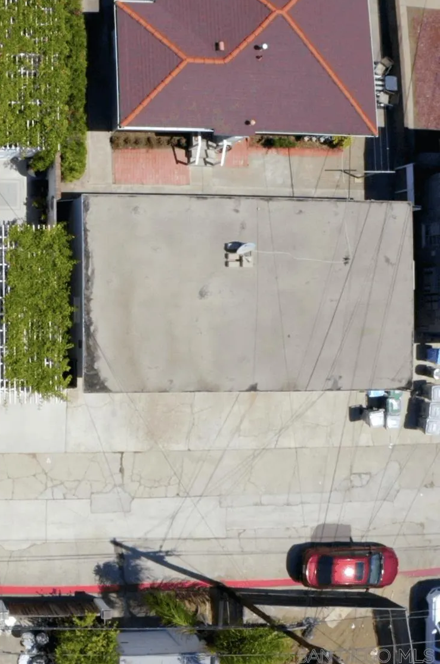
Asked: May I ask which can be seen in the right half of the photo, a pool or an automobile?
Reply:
automobile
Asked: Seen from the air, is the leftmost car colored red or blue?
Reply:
red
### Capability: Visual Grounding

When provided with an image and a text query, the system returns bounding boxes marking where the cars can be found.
[417,585,440,664]
[296,543,398,595]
